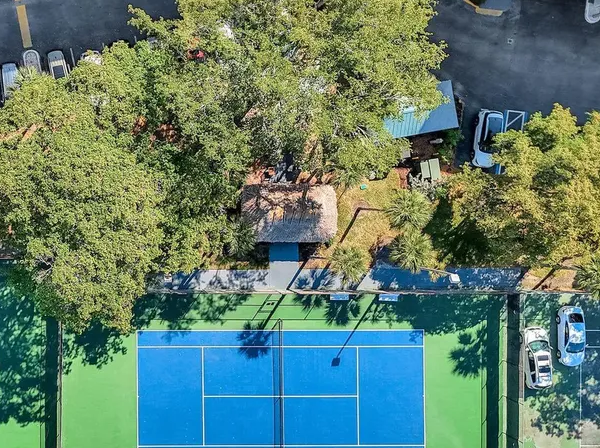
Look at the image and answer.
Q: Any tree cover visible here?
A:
Yes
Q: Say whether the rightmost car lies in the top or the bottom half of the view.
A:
bottom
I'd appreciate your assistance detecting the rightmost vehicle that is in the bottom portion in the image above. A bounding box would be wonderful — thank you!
[553,306,587,367]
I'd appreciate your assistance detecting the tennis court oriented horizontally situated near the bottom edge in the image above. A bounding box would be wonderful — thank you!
[63,292,506,448]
